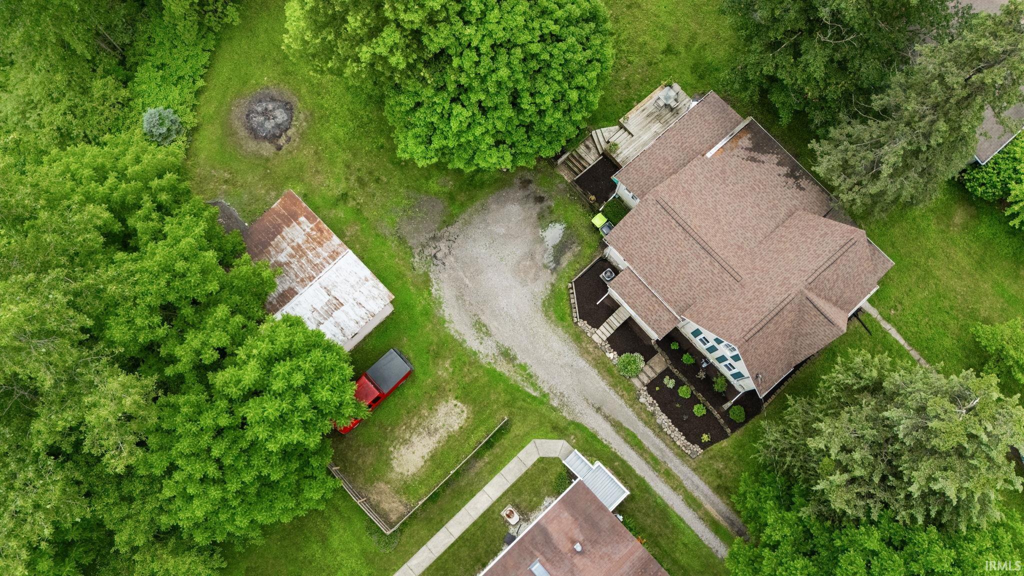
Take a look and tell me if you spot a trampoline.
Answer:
No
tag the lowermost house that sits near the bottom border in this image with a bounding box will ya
[481,478,670,576]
